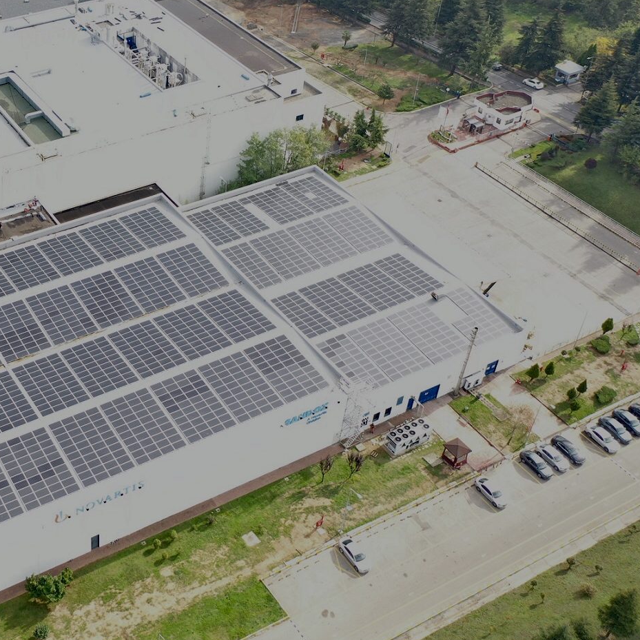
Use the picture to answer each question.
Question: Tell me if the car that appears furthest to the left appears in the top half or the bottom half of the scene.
bottom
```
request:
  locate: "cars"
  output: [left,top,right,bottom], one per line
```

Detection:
[518,450,554,481]
[534,444,570,474]
[613,407,640,436]
[549,436,586,466]
[337,540,373,576]
[598,416,634,444]
[627,400,640,417]
[522,78,544,90]
[473,478,509,510]
[583,425,619,454]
